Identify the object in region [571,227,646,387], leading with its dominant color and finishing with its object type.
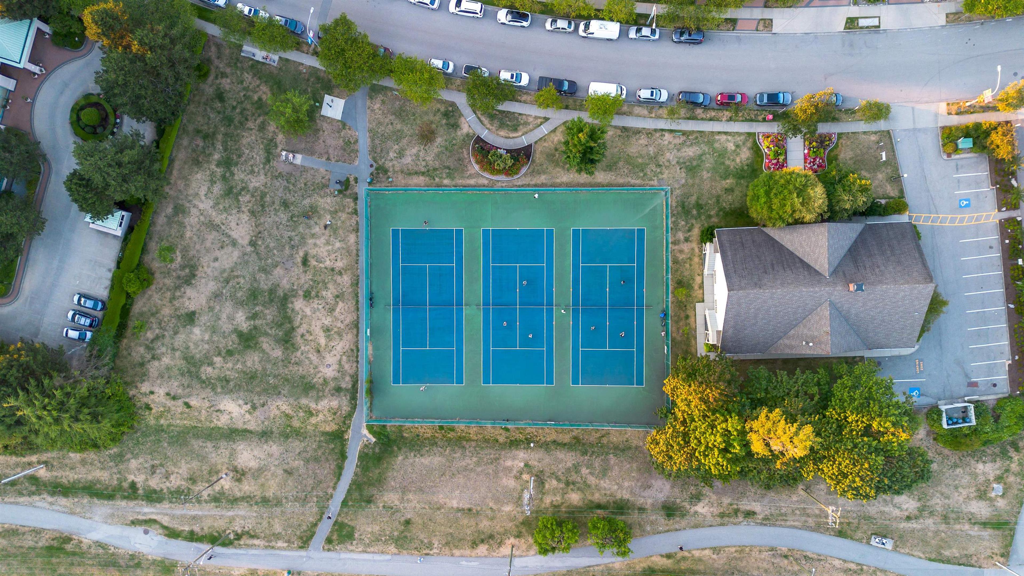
blue tennis court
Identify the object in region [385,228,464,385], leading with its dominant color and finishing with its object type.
blue tennis court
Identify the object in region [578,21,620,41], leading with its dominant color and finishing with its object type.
white vehicle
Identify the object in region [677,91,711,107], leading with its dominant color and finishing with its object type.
blue car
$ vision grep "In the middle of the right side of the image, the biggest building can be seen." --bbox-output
[700,221,937,354]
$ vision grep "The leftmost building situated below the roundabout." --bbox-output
[84,203,139,236]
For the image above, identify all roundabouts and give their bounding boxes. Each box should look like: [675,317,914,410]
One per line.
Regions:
[66,94,115,141]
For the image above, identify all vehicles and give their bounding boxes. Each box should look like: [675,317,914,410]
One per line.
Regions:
[636,88,668,104]
[237,2,270,23]
[536,78,577,96]
[498,70,529,87]
[578,21,620,41]
[754,91,790,106]
[715,91,748,107]
[677,91,711,107]
[671,28,705,45]
[67,309,102,328]
[824,91,841,105]
[428,58,455,75]
[498,9,531,27]
[545,17,575,34]
[462,63,489,77]
[62,326,95,343]
[73,293,107,311]
[588,82,626,101]
[273,15,306,36]
[449,0,484,18]
[628,25,660,42]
